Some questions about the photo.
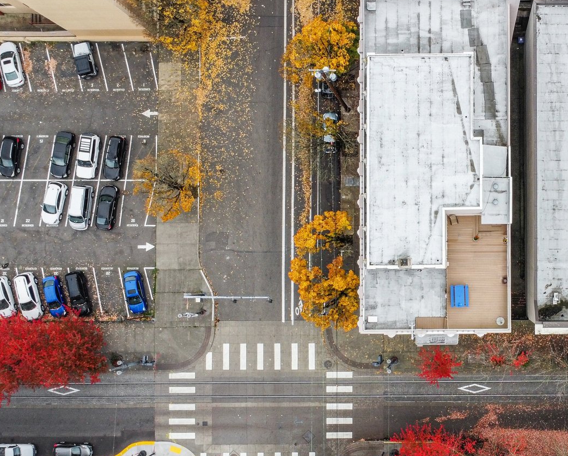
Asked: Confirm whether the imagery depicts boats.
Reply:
No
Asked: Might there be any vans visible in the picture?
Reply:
Yes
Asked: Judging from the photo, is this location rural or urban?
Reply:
urban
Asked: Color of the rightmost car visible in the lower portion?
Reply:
blue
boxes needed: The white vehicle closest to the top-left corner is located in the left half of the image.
[0,43,28,89]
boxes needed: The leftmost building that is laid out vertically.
[353,0,521,346]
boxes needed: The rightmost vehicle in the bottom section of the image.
[123,270,149,315]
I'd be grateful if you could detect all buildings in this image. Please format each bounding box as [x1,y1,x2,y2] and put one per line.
[0,0,152,40]
[525,3,568,334]
[353,0,521,346]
